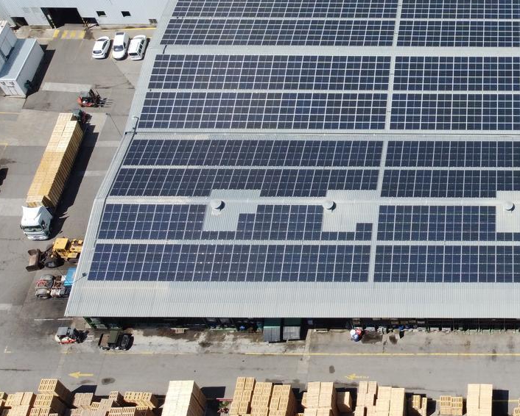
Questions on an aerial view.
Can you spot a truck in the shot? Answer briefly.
Yes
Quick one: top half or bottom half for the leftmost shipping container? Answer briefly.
top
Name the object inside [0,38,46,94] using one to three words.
shipping container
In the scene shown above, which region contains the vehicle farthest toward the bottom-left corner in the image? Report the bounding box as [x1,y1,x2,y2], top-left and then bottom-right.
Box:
[48,324,90,345]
